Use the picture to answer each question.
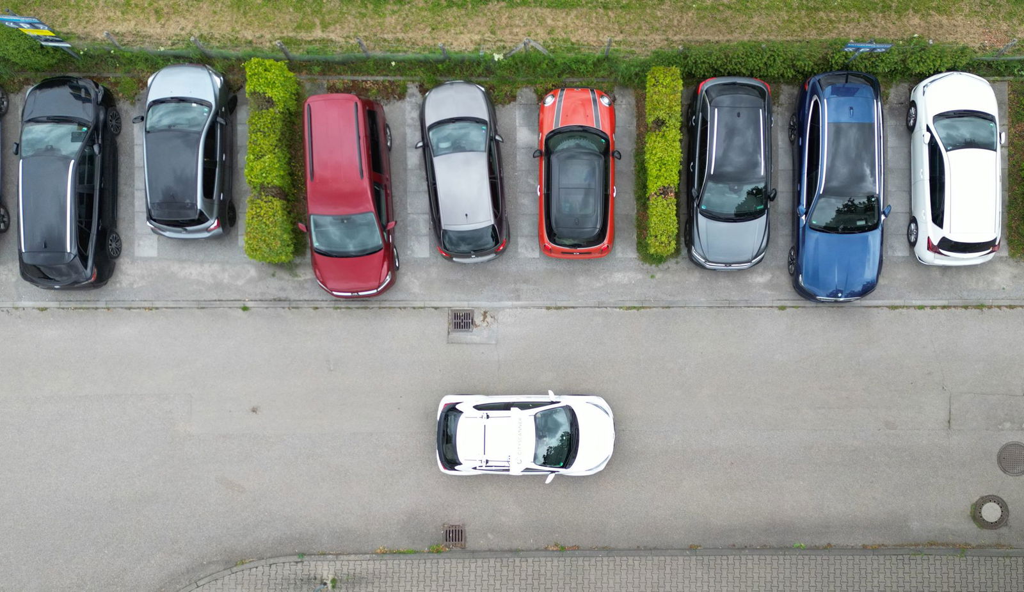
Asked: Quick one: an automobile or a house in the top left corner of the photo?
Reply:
automobile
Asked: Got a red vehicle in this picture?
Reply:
Yes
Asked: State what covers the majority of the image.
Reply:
paved ground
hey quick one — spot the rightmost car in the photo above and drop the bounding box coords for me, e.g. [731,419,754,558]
[908,72,1012,267]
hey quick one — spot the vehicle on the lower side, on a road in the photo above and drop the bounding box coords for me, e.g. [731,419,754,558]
[435,388,615,484]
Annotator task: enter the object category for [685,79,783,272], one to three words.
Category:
car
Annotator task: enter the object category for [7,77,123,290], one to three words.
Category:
car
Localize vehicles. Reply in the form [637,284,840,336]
[131,65,235,239]
[435,388,615,484]
[908,72,1012,267]
[293,95,398,301]
[413,81,512,264]
[7,77,123,290]
[685,79,783,272]
[790,75,896,302]
[530,88,624,261]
